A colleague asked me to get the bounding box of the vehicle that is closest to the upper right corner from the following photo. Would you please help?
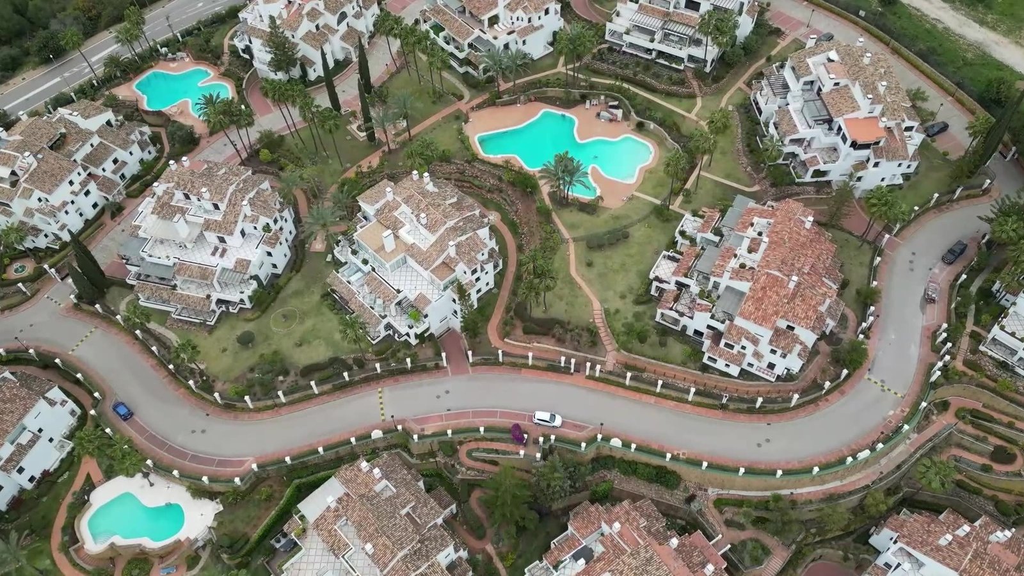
[926,120,951,135]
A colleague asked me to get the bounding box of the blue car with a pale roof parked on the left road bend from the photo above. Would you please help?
[109,400,133,423]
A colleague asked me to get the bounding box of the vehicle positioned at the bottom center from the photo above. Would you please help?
[531,410,564,430]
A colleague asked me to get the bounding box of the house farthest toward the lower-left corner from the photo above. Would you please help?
[0,374,86,527]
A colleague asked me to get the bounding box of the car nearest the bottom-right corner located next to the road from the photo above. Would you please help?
[925,280,942,302]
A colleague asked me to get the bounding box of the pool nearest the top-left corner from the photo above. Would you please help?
[131,66,234,121]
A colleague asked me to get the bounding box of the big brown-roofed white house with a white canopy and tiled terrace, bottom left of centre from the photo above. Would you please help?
[278,451,469,576]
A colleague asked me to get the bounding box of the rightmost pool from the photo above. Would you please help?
[472,108,656,199]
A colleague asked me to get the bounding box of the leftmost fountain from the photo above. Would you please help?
[8,260,30,277]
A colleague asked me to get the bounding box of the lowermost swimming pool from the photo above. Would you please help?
[83,488,189,549]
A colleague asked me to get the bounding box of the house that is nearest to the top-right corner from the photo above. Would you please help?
[745,35,925,204]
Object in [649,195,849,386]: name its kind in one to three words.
house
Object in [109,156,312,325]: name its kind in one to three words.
house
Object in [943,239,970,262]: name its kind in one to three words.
car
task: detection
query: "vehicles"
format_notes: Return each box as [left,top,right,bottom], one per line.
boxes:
[943,239,970,262]
[926,120,951,135]
[109,400,133,423]
[925,280,942,302]
[818,29,835,40]
[531,410,564,430]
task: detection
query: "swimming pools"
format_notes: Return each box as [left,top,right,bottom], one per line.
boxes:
[83,488,189,549]
[131,66,234,121]
[472,108,656,199]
